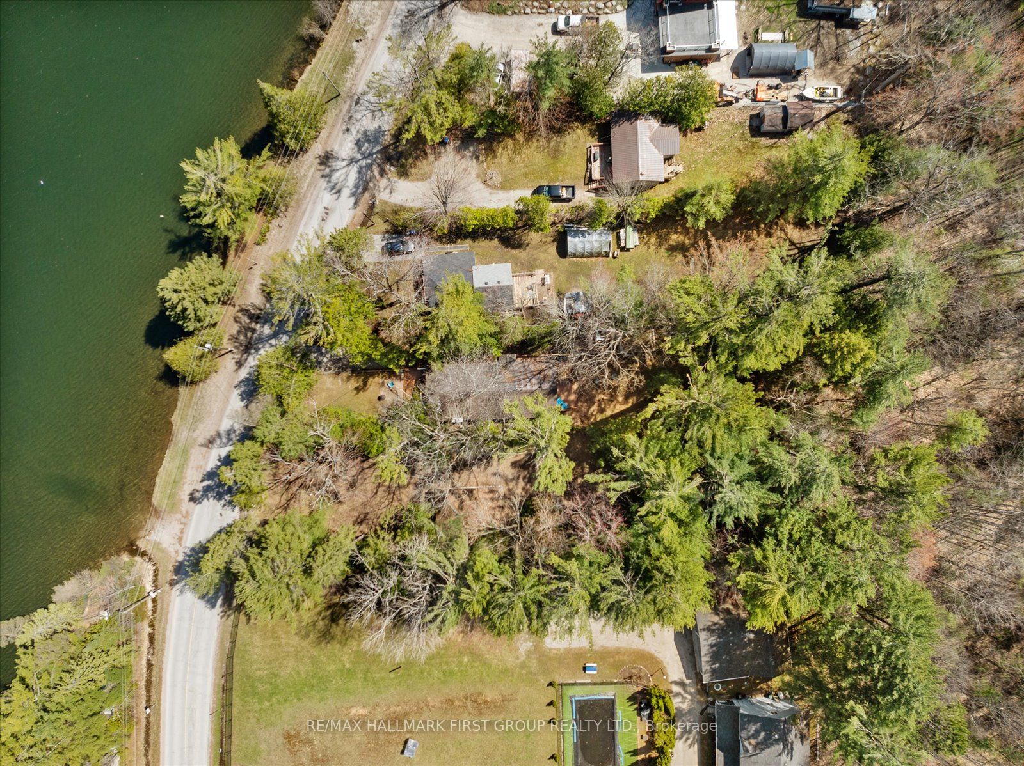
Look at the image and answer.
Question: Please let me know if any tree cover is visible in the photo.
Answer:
Yes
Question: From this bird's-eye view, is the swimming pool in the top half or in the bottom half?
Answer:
bottom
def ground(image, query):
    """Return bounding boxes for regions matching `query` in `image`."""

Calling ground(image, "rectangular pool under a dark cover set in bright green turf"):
[562,684,654,766]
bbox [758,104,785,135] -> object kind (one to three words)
shed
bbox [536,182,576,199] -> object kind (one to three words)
vehicle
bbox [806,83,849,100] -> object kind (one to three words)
boat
